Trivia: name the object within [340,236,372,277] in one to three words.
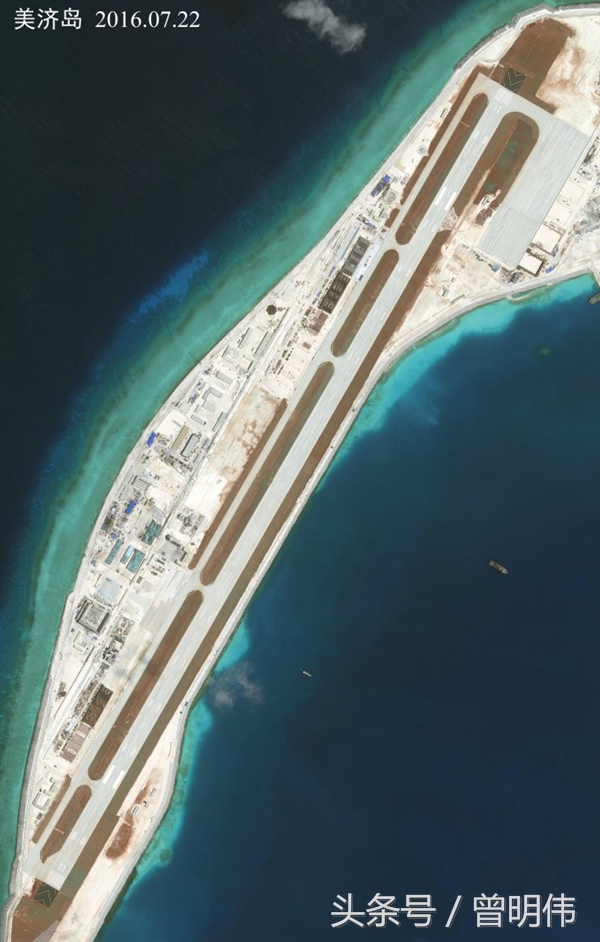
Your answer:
building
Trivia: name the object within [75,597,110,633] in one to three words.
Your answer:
building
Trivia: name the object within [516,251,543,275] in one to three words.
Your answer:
hangar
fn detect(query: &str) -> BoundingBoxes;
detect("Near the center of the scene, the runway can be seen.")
[42,84,518,890]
